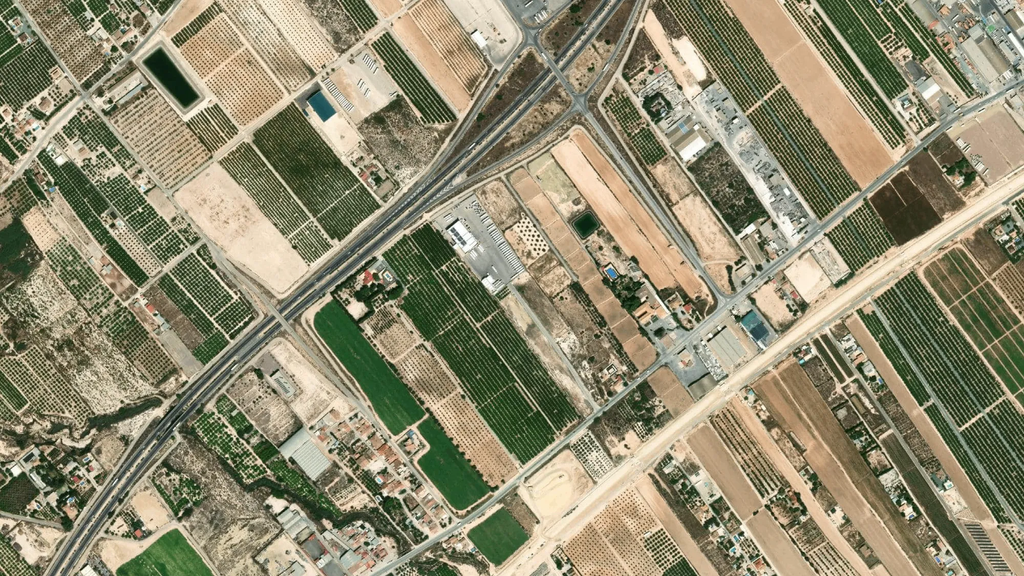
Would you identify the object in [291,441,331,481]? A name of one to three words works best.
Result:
greenhouse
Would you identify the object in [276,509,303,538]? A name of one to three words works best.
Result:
building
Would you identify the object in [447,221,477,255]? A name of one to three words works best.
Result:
building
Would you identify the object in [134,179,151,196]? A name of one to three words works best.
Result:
swimming pool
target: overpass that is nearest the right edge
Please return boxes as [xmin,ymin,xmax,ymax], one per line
[530,39,582,104]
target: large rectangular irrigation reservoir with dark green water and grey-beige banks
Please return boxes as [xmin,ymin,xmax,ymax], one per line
[135,41,204,114]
